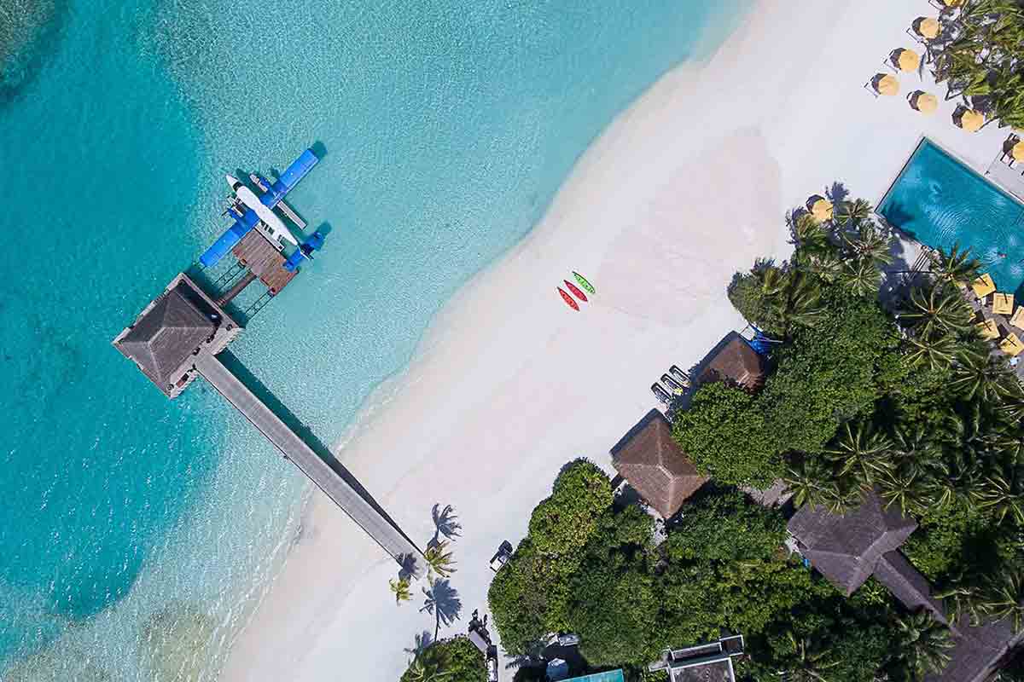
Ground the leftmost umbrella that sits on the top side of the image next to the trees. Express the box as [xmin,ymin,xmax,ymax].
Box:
[812,200,832,221]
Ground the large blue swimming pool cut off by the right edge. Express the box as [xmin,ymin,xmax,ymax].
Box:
[870,133,1024,305]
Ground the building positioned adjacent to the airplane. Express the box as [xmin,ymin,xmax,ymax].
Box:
[109,272,245,400]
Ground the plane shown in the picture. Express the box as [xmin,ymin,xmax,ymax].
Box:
[200,150,326,276]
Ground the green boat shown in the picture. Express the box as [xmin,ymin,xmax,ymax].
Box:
[573,272,595,293]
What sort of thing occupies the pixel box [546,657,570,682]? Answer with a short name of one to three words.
umbrella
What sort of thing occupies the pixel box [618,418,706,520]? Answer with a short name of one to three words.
shed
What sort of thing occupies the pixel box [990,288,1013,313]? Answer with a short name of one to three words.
umbrella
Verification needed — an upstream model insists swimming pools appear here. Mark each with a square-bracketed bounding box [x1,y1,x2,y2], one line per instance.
[557,668,625,682]
[870,133,1024,305]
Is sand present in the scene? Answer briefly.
Yes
